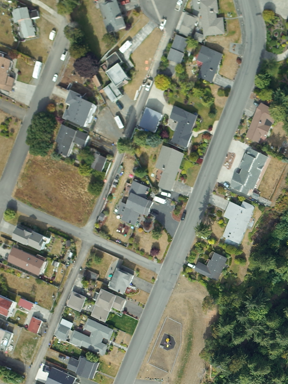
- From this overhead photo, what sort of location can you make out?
residential area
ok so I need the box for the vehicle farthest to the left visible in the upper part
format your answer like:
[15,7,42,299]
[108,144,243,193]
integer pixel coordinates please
[30,60,43,79]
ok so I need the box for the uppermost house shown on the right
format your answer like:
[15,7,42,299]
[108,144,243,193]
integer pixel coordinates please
[179,0,226,45]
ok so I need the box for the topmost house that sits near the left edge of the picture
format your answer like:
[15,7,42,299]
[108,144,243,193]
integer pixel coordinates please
[11,7,42,41]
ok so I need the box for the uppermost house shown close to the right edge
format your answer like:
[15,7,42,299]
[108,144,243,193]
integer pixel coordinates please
[245,101,274,142]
